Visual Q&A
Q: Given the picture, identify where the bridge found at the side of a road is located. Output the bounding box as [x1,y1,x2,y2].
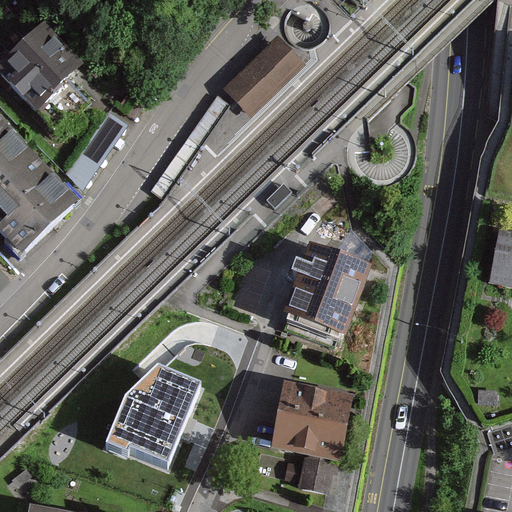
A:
[360,0,494,129]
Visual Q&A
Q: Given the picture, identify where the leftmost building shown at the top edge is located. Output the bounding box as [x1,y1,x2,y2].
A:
[0,22,84,112]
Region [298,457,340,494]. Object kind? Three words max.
building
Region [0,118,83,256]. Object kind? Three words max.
house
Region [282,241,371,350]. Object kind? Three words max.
house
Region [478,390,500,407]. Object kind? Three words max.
shed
